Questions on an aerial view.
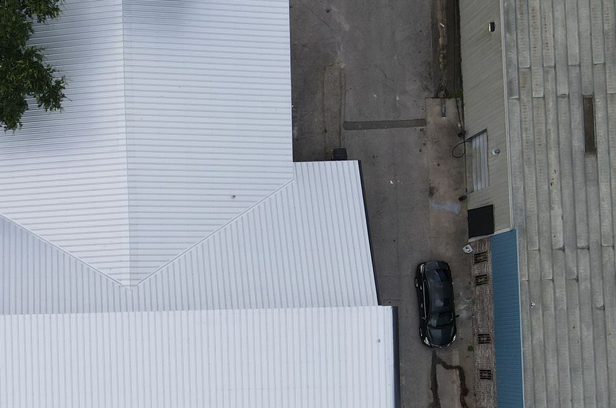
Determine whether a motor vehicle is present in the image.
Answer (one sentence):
Yes, looking at the shot, I can spot a motor vehicle.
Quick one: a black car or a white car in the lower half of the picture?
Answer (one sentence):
You can see a black car in the lower half of the picture.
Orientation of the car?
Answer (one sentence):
In this picture, the car is oriented vertically.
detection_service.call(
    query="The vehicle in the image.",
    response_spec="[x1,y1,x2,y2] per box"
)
[417,259,463,346]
